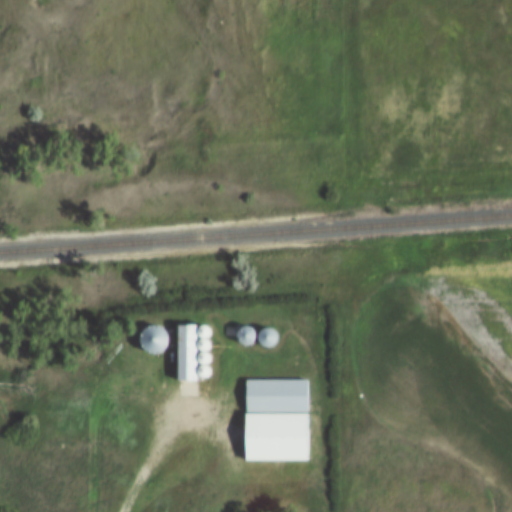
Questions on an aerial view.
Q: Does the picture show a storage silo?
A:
Yes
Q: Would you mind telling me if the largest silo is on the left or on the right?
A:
left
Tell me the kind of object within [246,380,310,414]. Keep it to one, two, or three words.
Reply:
barn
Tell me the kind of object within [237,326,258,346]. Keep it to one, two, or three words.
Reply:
silo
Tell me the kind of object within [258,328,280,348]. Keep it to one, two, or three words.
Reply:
silo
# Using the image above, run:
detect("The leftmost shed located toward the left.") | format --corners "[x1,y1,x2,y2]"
[178,324,198,381]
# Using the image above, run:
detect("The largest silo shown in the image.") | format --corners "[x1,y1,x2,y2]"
[140,325,170,354]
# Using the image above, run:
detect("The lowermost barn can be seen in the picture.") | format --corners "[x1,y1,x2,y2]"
[246,414,310,462]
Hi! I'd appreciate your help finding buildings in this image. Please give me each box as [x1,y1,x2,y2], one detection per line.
[178,324,198,381]
[246,414,310,462]
[246,380,310,414]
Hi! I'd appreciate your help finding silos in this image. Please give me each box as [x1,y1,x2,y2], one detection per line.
[198,352,214,366]
[198,324,214,338]
[258,328,280,348]
[198,338,214,352]
[198,365,214,379]
[237,326,258,346]
[140,325,170,354]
